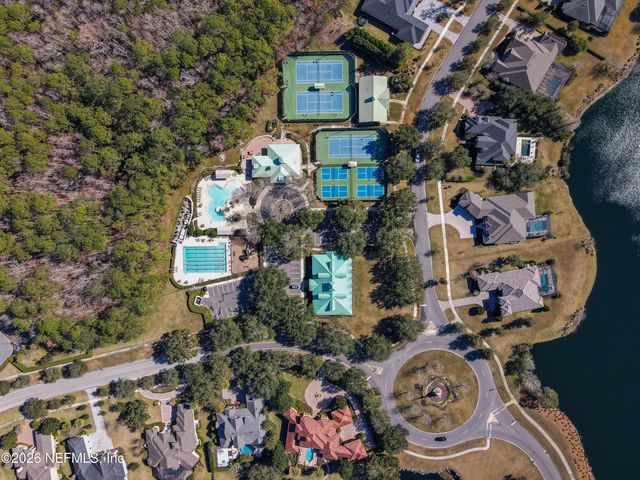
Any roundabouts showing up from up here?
Yes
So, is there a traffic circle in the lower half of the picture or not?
Yes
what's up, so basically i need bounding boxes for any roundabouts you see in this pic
[364,304,516,450]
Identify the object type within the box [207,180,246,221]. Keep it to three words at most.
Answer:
swimming pool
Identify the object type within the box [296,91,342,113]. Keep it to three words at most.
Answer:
tennis court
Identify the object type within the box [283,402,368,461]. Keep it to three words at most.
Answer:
house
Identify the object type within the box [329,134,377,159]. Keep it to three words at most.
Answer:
tennis court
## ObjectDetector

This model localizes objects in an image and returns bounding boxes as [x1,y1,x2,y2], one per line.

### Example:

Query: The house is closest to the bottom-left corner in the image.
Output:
[12,431,61,480]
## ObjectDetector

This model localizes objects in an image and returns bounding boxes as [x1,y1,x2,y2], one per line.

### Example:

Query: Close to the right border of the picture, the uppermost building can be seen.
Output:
[559,0,610,28]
